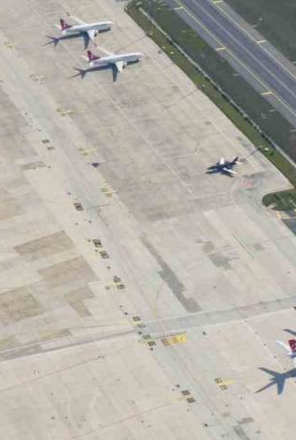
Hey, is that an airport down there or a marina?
airport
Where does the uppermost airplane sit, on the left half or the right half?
left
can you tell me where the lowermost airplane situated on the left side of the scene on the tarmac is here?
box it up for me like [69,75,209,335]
[87,45,143,73]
